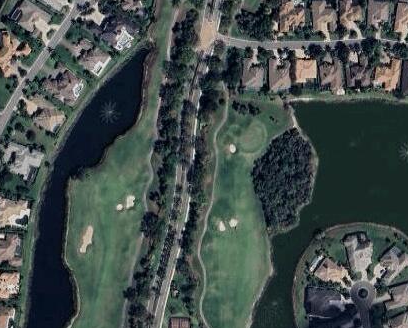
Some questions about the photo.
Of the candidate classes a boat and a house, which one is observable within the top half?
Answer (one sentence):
What appears within the top half is a house.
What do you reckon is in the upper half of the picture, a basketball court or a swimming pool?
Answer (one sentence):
What appears in the upper half of the picture is a swimming pool.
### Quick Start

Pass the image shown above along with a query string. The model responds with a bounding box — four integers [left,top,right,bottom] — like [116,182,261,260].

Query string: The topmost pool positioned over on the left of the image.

[111,22,134,55]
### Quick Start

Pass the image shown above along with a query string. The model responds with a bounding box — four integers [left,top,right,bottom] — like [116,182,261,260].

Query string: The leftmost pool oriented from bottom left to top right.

[66,78,90,107]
